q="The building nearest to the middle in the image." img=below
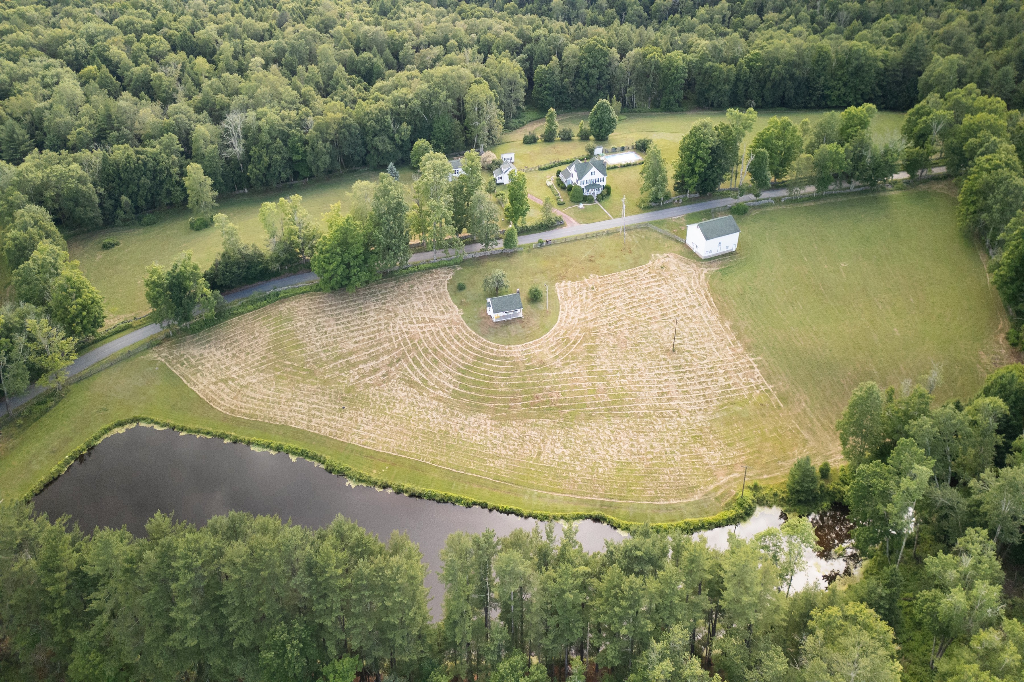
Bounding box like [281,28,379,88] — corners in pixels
[486,289,523,322]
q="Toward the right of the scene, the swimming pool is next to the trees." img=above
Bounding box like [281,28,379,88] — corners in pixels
[598,152,641,164]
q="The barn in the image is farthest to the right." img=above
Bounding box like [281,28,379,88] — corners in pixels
[682,213,742,259]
